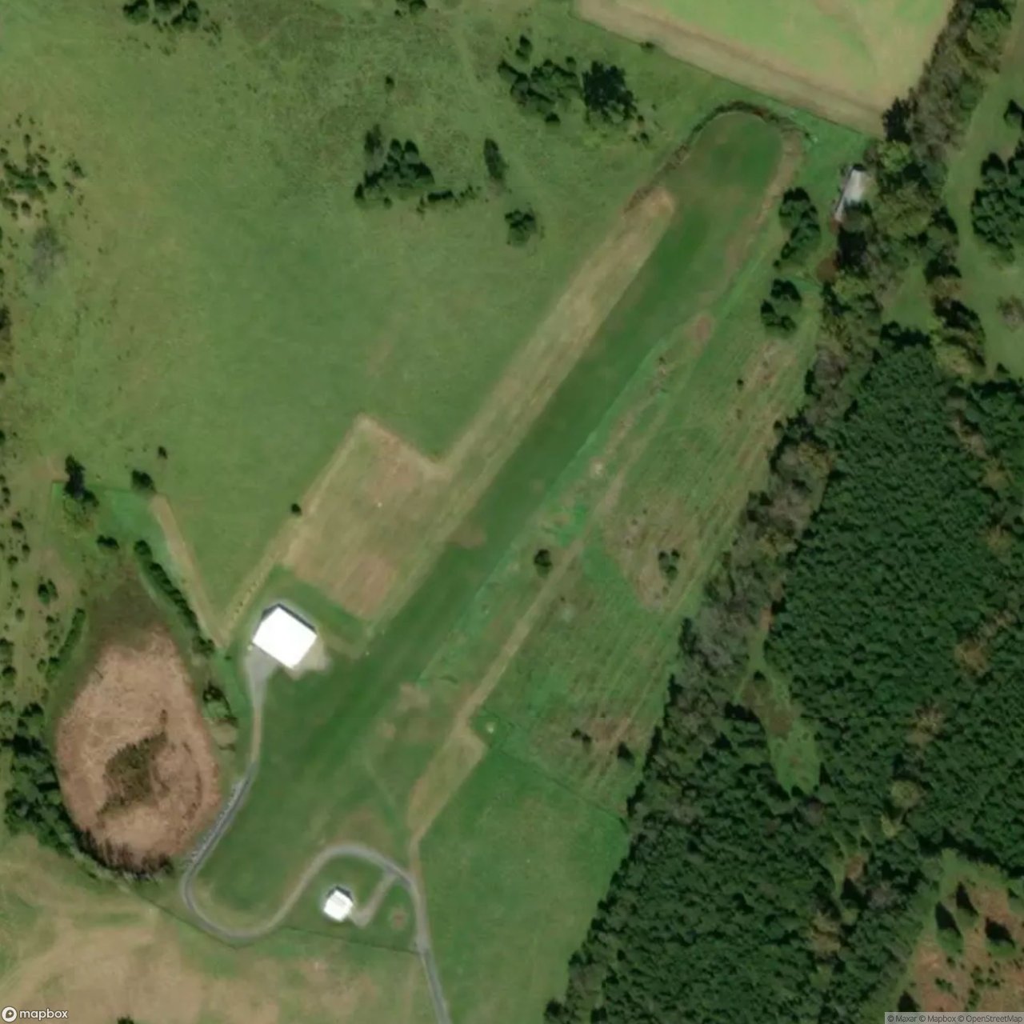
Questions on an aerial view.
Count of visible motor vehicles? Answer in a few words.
zero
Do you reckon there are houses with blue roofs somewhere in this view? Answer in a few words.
No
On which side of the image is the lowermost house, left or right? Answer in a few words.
left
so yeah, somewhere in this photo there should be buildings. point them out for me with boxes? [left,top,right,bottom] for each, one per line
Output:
[323,891,353,922]
[835,167,869,219]
[254,607,317,669]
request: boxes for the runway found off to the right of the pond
[210,112,782,872]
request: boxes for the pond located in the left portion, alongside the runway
[56,626,221,867]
